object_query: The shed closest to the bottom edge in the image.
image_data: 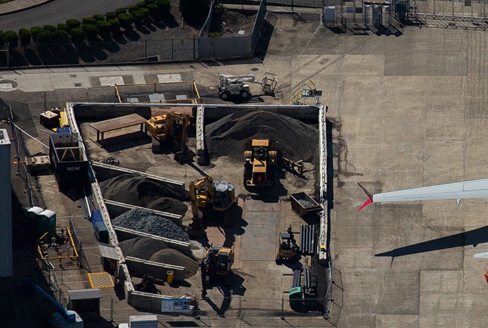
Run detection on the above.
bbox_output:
[68,294,102,326]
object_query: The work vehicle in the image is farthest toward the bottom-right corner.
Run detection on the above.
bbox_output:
[275,230,298,267]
